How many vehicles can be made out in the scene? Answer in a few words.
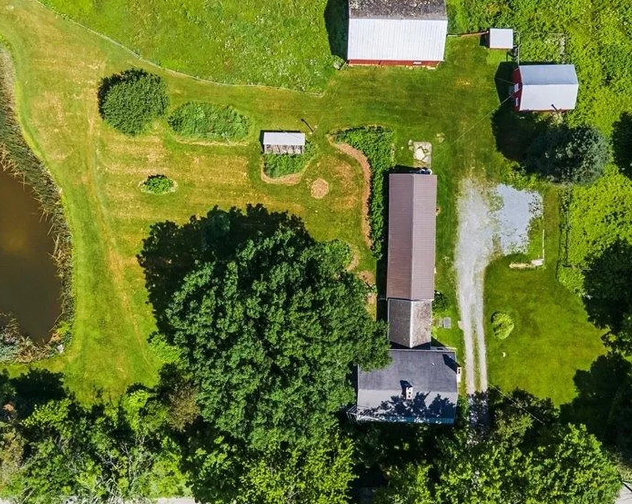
none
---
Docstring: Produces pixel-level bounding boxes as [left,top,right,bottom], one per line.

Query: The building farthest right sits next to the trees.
[504,64,580,114]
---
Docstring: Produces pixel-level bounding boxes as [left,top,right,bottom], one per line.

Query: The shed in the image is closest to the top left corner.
[263,132,305,153]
